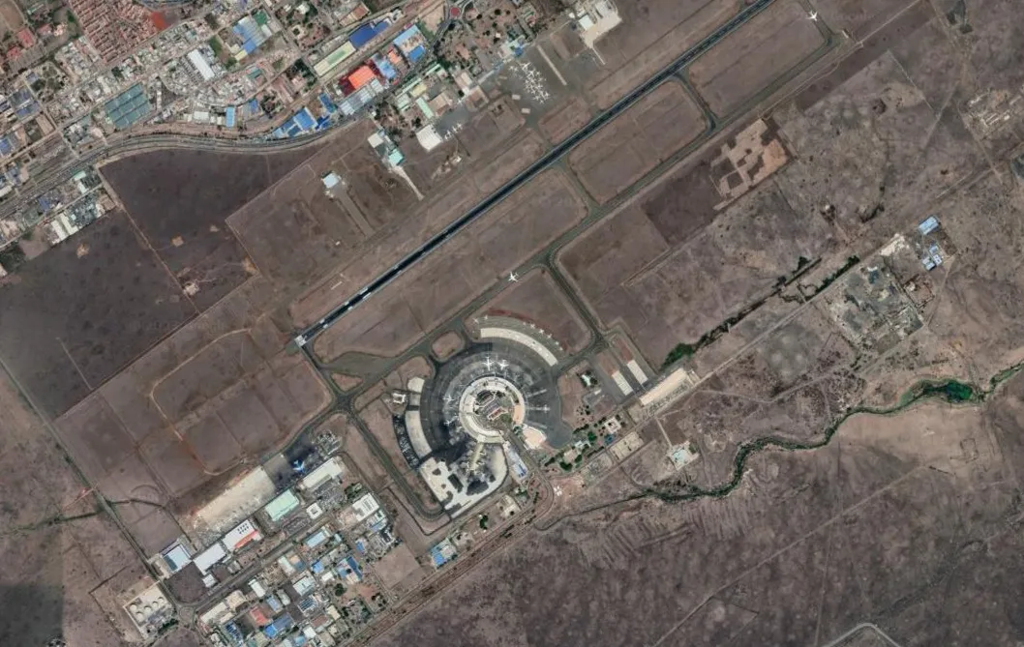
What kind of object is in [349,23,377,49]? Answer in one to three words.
building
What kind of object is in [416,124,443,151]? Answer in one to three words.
hangar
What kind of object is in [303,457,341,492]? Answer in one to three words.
building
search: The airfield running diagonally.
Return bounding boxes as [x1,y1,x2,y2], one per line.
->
[189,0,852,537]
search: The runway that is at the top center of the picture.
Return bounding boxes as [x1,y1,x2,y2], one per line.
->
[297,0,772,344]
